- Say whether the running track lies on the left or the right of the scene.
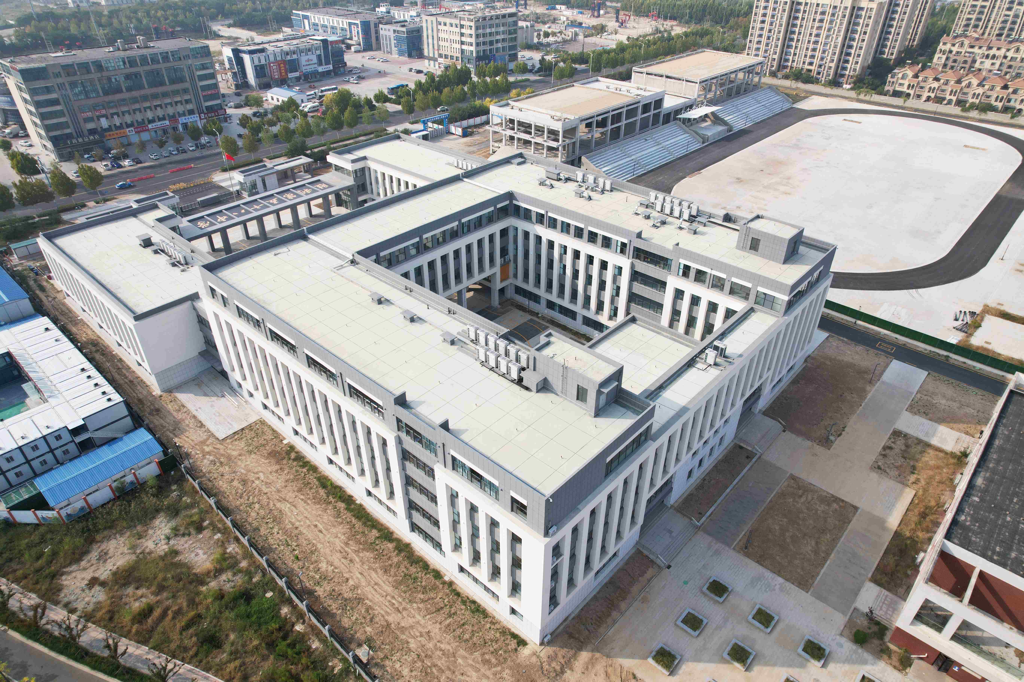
right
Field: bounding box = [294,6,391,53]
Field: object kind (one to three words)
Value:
building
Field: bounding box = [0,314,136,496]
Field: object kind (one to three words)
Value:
building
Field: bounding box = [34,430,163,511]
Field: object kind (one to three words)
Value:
shed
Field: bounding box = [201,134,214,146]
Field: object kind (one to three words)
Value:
vehicle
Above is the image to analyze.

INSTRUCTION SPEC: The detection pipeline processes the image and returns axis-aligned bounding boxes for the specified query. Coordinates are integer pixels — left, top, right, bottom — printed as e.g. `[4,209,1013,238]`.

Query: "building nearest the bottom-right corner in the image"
[892,368,1024,682]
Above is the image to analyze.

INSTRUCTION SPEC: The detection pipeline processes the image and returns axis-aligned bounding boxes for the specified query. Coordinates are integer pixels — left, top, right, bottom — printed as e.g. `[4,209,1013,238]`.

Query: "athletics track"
[629,107,1024,290]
